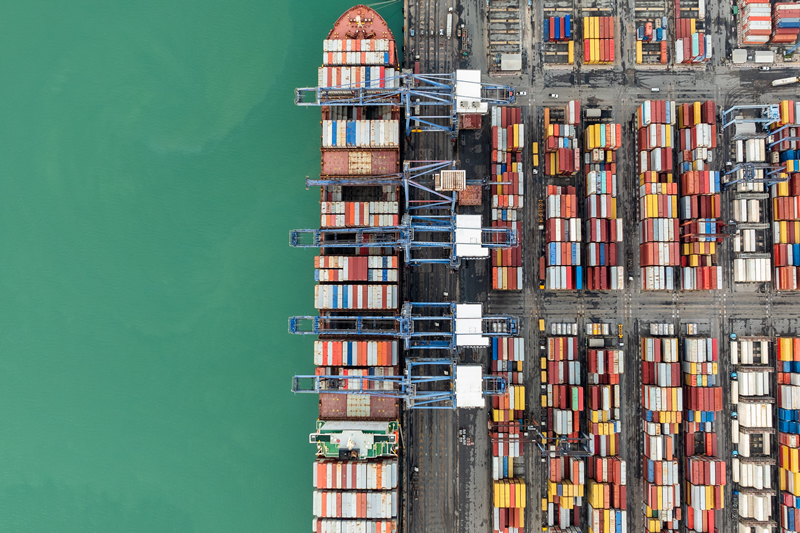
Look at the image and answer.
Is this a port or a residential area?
port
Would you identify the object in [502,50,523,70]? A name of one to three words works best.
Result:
shed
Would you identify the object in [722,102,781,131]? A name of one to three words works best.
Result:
container crane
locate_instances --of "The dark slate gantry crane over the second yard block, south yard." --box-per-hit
[538,428,592,457]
